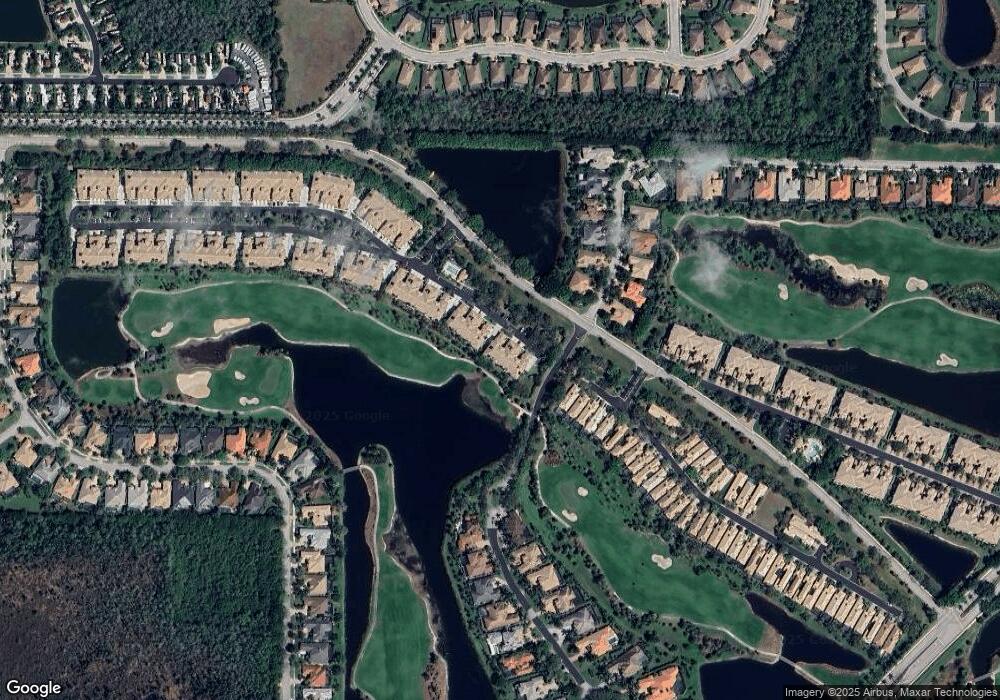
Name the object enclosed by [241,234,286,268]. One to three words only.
building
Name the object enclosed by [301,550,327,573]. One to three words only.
house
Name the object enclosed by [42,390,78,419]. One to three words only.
house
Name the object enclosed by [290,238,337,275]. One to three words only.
building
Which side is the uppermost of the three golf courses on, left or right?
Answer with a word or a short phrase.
right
